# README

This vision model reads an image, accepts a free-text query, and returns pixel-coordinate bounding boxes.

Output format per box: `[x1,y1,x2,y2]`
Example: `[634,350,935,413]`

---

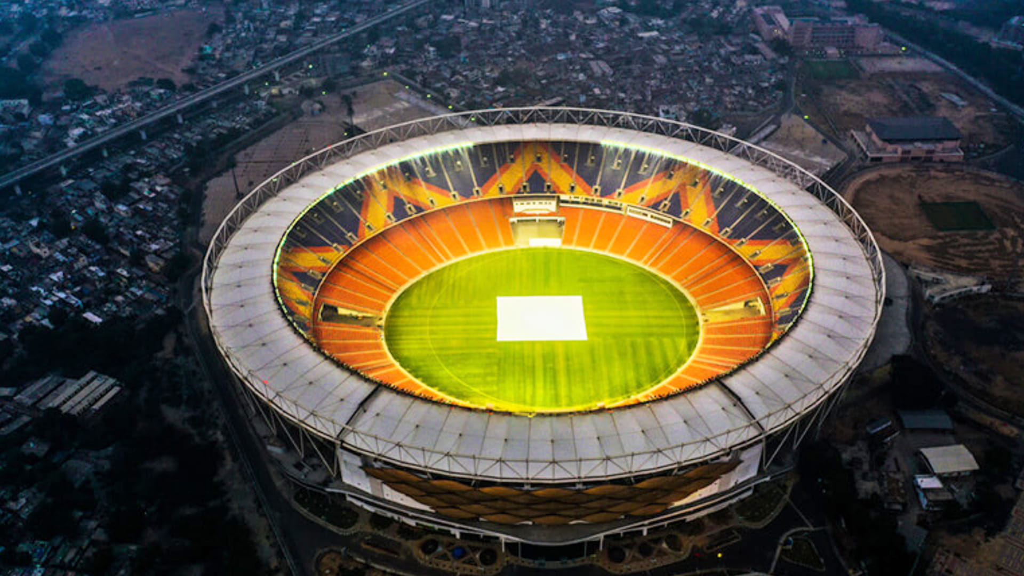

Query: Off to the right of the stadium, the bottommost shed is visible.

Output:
[897,523,928,561]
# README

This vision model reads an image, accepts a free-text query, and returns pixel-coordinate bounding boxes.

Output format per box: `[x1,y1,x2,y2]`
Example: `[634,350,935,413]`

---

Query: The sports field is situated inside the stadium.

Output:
[384,247,698,411]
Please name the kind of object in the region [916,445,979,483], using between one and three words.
shed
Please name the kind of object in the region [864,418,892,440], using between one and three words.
shed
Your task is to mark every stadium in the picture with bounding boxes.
[205,107,885,559]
